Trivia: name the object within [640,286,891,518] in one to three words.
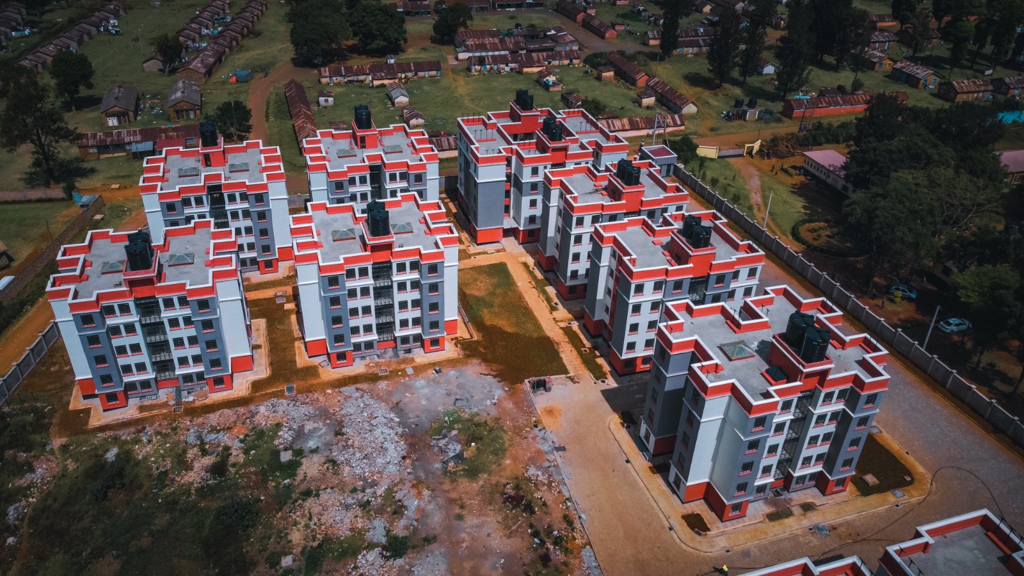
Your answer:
building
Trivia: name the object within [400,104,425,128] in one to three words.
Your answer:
shed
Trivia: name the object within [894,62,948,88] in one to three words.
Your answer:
house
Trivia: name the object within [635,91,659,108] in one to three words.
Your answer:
shed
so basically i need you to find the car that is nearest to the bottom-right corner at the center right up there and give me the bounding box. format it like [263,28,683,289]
[940,317,968,332]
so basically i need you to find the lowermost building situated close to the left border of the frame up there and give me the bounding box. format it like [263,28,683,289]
[46,218,255,411]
